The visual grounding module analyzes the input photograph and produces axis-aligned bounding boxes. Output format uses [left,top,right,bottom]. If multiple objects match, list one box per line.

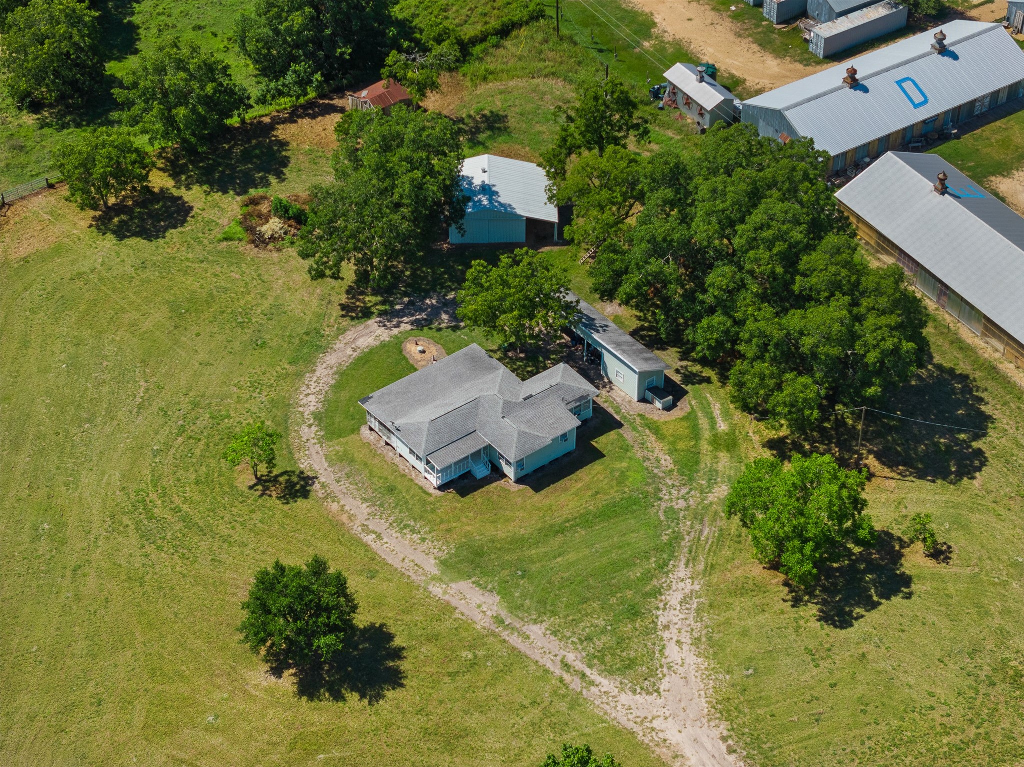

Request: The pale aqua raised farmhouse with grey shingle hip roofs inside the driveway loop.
[358,345,599,488]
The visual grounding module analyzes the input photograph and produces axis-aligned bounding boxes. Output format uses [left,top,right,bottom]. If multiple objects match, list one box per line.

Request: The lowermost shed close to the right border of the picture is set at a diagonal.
[832,152,1024,367]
